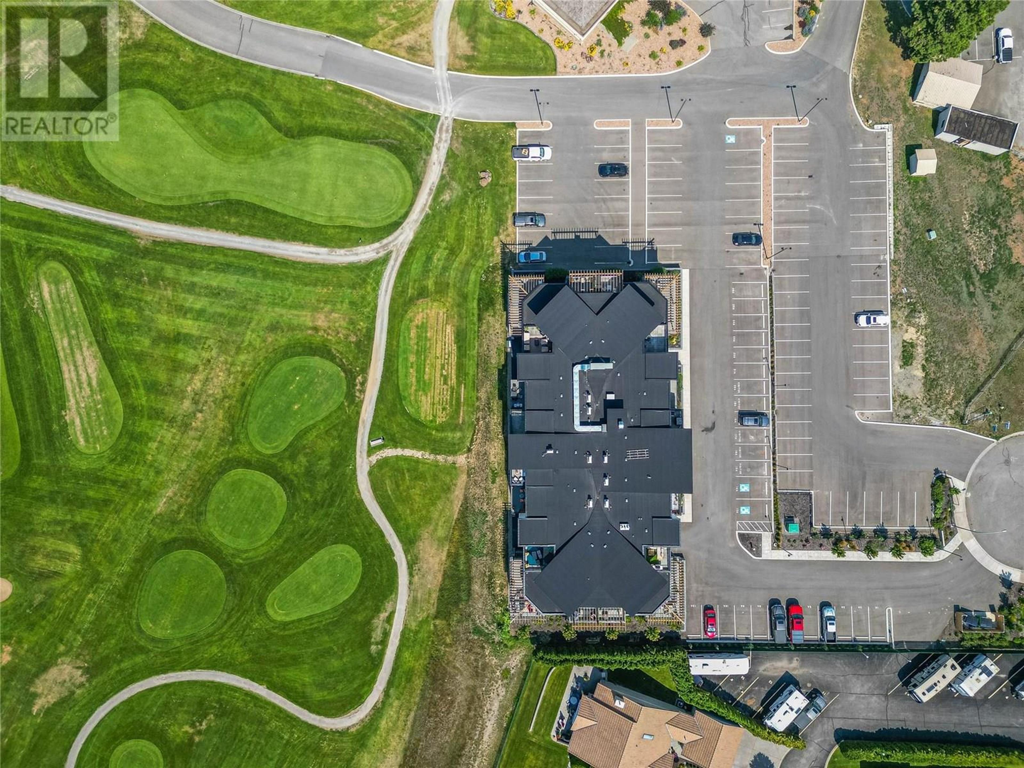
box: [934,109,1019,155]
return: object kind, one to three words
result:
building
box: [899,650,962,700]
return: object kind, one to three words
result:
camper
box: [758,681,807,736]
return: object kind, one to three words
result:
trailer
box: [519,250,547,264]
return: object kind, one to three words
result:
car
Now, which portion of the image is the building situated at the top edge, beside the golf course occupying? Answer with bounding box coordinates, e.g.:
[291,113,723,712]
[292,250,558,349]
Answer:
[528,0,620,49]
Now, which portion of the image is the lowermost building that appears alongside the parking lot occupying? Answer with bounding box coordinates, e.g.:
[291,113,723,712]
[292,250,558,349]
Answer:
[568,676,743,768]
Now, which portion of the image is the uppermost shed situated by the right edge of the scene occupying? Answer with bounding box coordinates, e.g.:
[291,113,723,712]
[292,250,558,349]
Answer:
[904,59,983,117]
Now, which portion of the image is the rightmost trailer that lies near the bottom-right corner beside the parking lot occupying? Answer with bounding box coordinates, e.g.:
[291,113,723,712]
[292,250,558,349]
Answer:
[946,654,1001,697]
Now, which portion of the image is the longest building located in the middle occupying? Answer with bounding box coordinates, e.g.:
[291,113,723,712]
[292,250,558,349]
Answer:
[508,270,693,632]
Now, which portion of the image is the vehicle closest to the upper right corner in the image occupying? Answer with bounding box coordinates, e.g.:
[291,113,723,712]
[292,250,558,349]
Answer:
[995,27,1015,66]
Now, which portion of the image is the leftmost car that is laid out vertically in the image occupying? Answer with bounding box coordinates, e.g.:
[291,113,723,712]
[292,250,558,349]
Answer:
[703,609,718,639]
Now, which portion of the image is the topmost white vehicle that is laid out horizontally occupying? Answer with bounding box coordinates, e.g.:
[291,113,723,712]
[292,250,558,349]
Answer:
[512,144,551,162]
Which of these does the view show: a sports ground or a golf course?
golf course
